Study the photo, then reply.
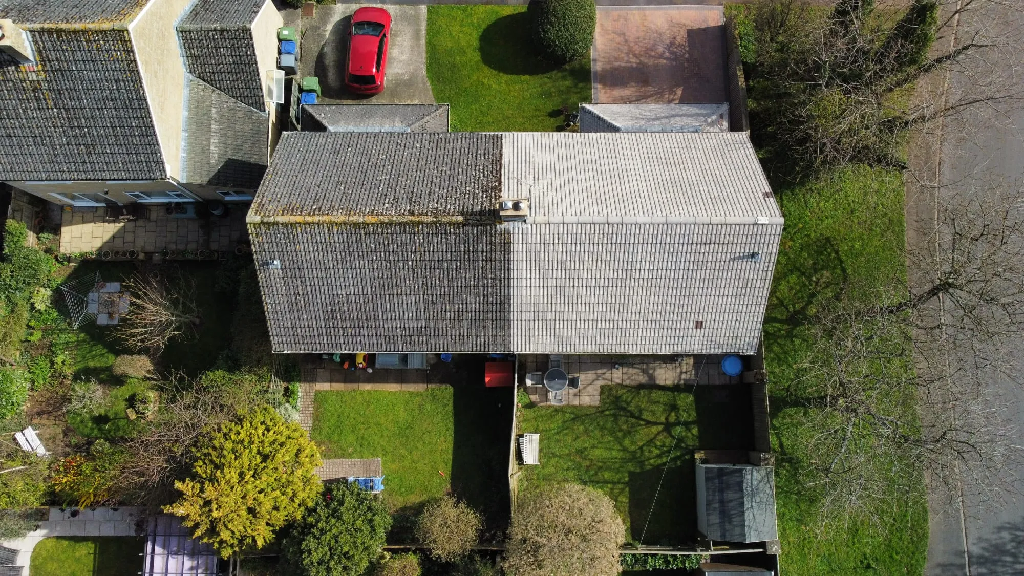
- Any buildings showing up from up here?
Yes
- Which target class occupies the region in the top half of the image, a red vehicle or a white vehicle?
red vehicle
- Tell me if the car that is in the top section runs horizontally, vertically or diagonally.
vertically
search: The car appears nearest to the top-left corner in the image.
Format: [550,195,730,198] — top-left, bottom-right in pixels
[345,6,392,96]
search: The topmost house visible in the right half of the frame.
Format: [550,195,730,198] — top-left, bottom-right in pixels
[497,100,785,357]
